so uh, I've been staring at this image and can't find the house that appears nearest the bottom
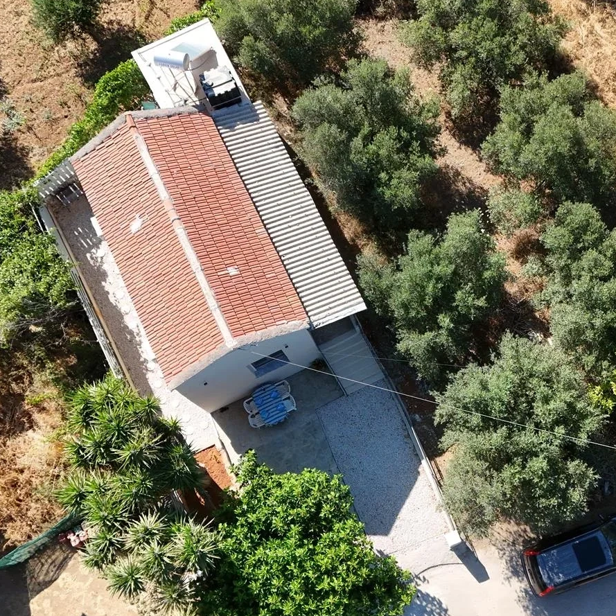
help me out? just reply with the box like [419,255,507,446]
[80,100,383,412]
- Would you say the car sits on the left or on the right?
right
